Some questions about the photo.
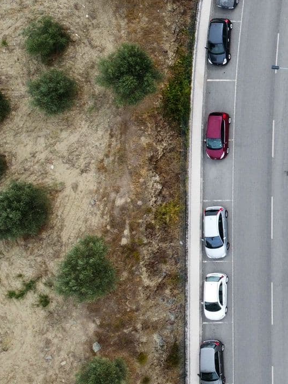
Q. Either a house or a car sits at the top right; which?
car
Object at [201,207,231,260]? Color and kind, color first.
white car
